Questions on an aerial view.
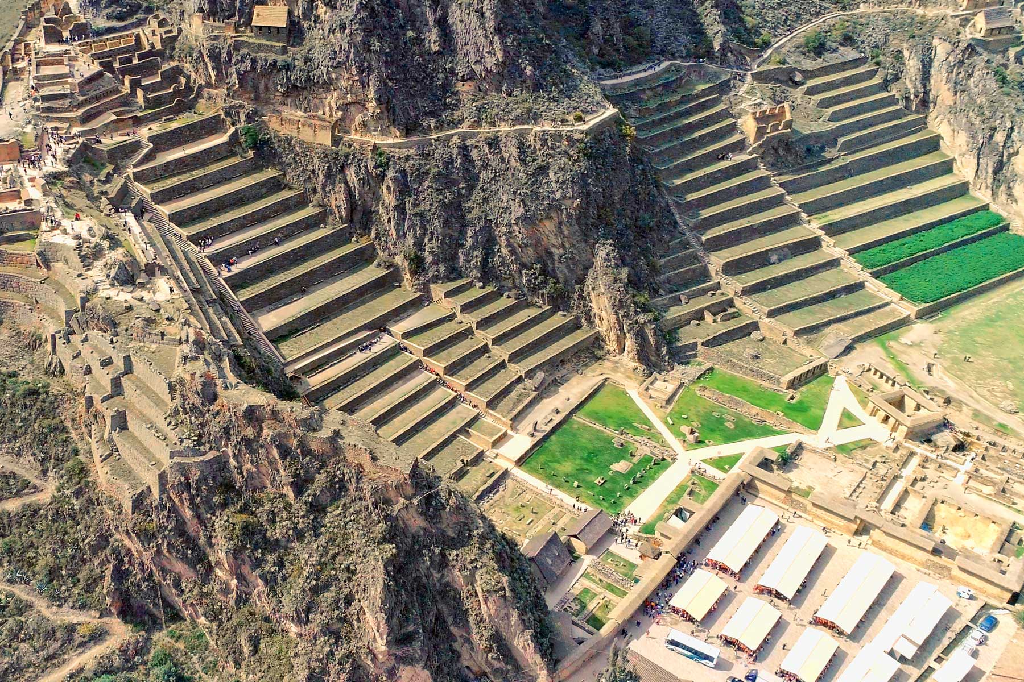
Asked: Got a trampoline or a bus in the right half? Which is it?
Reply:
bus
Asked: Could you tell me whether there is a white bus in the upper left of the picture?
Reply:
No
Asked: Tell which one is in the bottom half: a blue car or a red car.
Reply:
blue car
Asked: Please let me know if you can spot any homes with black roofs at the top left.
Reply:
No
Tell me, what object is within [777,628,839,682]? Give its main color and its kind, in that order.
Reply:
white tent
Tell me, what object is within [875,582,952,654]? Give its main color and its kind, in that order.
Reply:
white tent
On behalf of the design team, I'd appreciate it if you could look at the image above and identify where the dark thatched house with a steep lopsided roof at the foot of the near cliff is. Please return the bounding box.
[521,532,573,586]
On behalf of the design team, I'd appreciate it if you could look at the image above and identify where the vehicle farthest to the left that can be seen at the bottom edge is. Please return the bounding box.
[658,625,725,672]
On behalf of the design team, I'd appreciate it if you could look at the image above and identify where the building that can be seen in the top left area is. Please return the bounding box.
[252,2,290,53]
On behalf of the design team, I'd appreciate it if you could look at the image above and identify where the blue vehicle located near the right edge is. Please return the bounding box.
[981,611,1001,634]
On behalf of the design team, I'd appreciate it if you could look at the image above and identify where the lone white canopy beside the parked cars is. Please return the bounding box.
[935,644,977,682]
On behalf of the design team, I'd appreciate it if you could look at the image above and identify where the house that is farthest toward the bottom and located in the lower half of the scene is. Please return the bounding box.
[626,649,687,682]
